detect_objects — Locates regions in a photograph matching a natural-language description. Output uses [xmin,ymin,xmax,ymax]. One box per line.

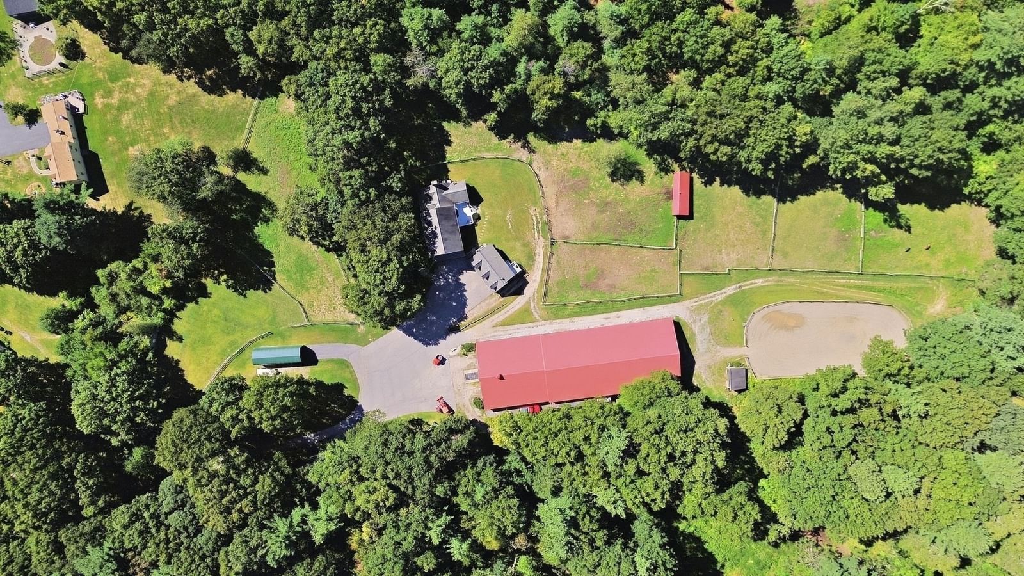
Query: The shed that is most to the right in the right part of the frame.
[726,368,746,390]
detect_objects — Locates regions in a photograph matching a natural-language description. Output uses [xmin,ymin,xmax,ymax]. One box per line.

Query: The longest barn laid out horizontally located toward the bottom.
[476,318,682,410]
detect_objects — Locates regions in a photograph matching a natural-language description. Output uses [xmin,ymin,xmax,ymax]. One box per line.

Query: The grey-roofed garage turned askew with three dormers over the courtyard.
[472,244,516,292]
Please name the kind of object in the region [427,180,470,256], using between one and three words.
house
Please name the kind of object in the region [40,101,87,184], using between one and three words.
house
